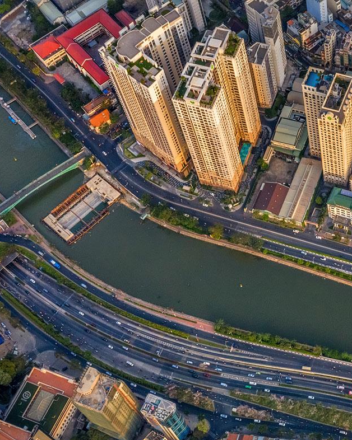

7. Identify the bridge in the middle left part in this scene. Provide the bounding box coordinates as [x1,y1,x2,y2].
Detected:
[0,151,101,211]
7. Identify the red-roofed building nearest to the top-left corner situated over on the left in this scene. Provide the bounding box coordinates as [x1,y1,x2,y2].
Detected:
[30,33,68,69]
